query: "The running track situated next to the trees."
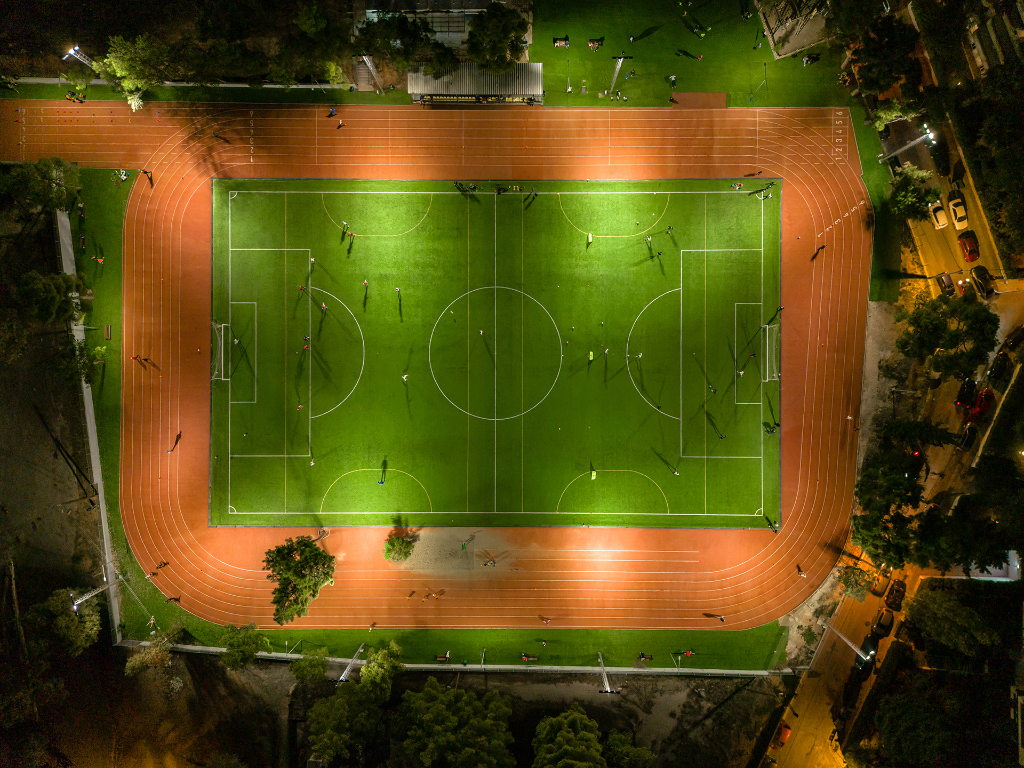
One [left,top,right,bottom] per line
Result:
[0,92,875,631]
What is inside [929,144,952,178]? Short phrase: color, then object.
black car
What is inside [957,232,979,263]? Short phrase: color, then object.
red car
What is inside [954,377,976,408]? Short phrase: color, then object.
black car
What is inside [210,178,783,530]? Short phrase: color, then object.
green soccer field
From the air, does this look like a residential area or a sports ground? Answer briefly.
sports ground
